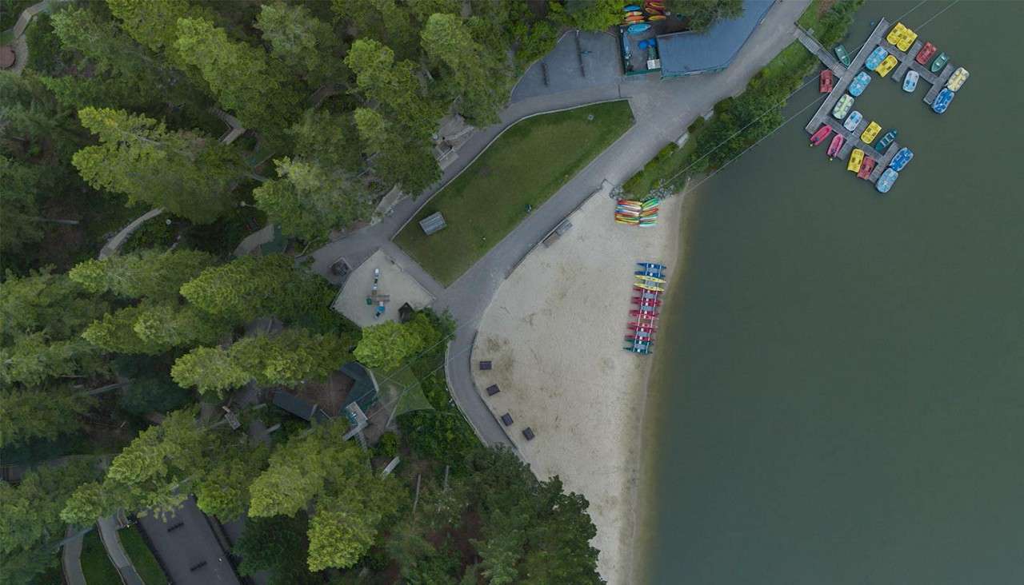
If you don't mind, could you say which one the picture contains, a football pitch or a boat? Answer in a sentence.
Visible in the photo is a boat.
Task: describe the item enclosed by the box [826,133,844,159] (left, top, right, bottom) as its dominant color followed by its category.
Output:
pink boat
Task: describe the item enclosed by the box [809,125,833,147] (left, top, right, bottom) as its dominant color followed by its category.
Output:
red boat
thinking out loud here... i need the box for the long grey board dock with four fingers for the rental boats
[805,15,955,183]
